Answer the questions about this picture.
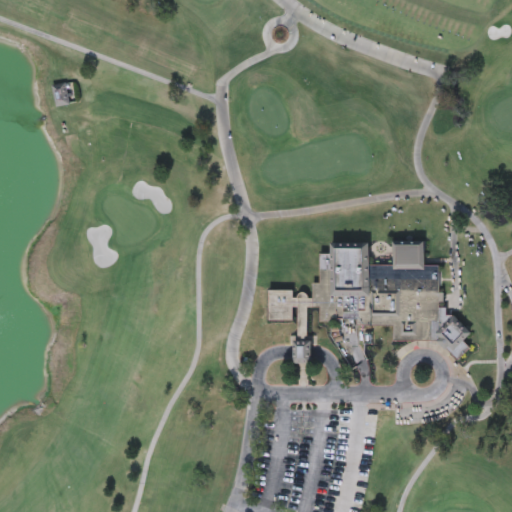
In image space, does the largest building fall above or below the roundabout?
below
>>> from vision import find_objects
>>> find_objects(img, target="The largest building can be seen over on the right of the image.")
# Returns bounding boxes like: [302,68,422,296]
[268,242,470,364]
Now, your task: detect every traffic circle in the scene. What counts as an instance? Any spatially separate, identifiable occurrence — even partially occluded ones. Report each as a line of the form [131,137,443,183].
[263,12,299,52]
